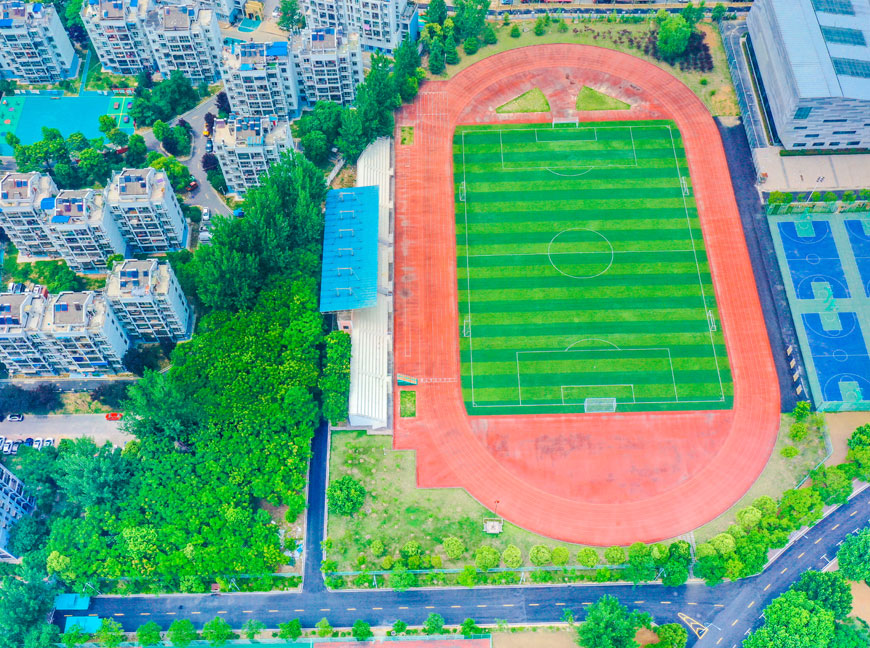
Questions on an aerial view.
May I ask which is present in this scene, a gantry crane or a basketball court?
basketball court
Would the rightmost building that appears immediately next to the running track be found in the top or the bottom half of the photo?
top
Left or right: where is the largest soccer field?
right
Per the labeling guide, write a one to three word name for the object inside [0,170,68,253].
building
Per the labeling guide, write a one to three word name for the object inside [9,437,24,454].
car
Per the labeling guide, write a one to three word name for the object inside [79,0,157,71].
building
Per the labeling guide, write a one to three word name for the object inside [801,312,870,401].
basketball court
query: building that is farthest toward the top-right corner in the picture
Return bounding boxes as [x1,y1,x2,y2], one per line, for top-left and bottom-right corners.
[749,0,870,141]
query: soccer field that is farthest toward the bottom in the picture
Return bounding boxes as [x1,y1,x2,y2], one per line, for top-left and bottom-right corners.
[455,119,737,416]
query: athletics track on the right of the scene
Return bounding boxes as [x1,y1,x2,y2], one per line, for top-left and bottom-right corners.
[393,46,779,544]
